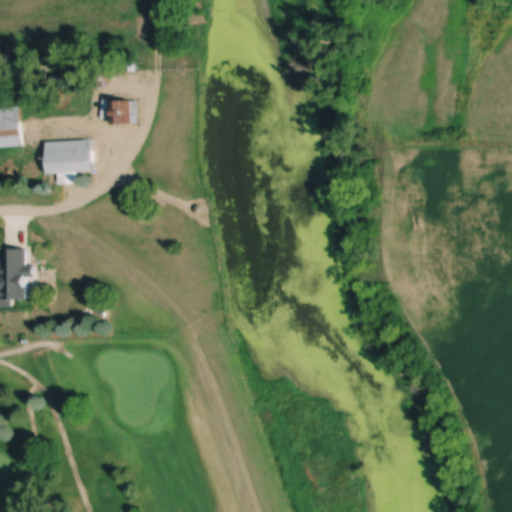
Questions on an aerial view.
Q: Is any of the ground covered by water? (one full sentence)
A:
Yes, water shows up in the scene.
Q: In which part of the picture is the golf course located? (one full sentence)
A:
The golf course appears toward the bottom left of the photo.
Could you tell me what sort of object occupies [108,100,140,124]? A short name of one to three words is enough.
barn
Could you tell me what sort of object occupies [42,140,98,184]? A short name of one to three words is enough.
house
